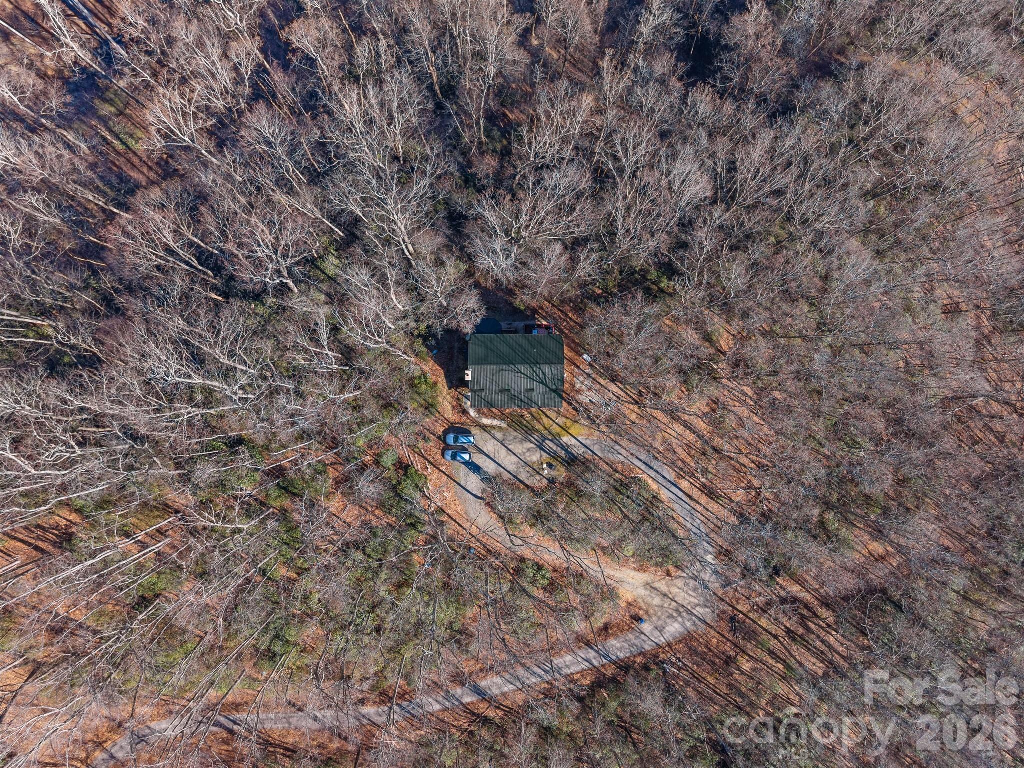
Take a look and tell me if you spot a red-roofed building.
No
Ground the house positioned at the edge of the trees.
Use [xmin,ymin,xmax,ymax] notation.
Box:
[463,335,565,409]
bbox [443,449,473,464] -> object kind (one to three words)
car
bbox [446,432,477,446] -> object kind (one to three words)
car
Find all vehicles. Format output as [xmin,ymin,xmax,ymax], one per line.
[446,432,477,446]
[443,449,473,464]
